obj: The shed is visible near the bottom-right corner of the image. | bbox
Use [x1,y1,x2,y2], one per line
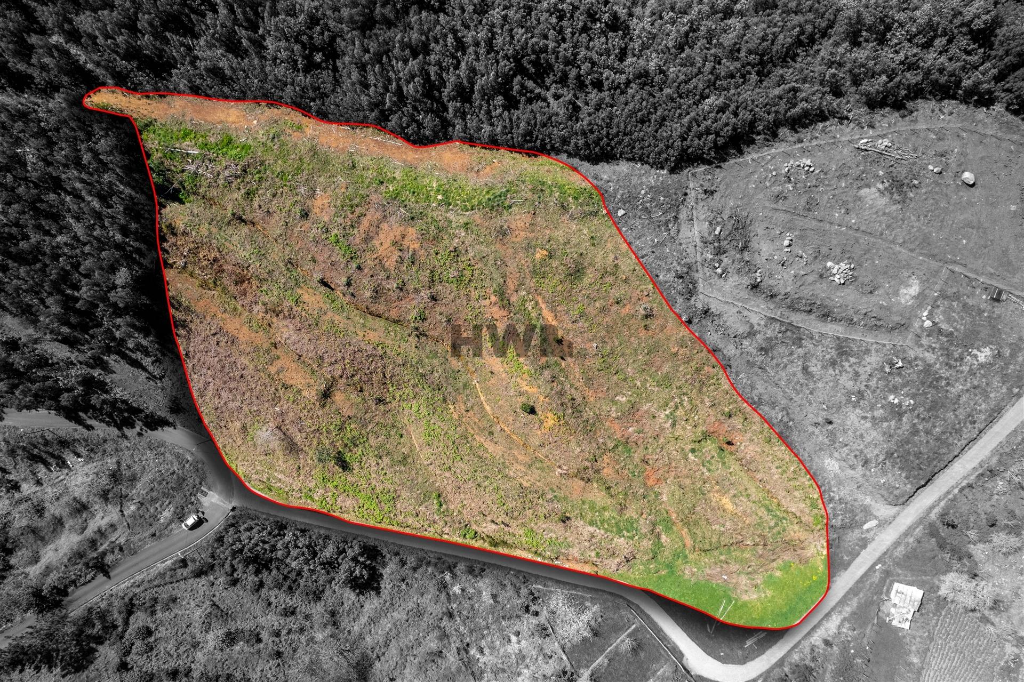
[888,583,924,628]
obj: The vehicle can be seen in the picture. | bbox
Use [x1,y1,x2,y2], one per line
[179,515,202,533]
